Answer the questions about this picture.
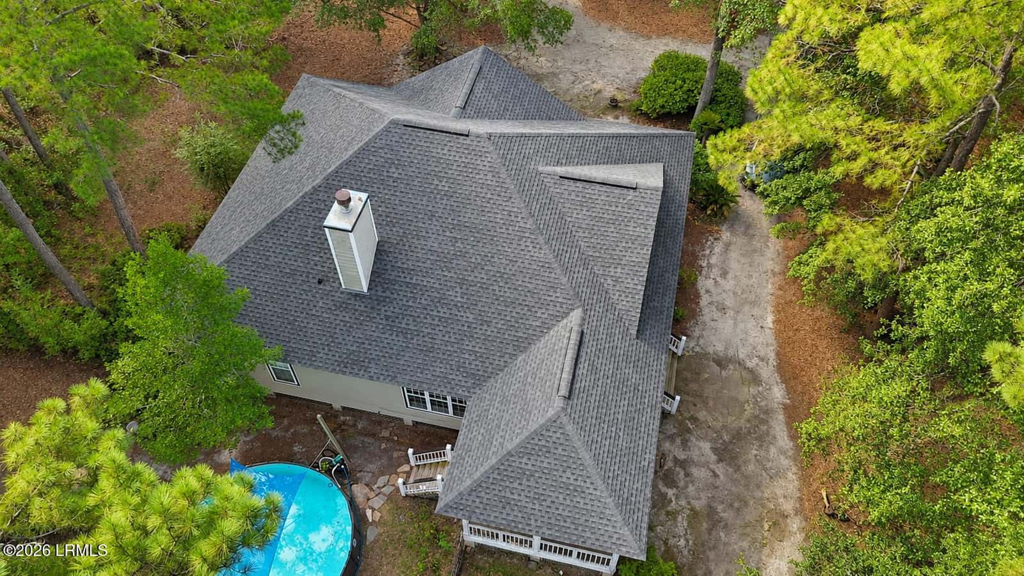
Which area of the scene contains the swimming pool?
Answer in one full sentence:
Look in the bottom left portion of the view to spot the swimming pool.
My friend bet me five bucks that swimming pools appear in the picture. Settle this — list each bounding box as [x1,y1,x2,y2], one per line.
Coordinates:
[151,460,363,576]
